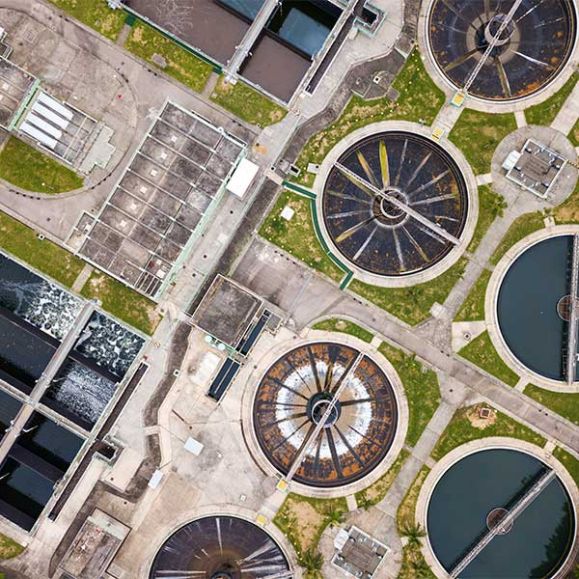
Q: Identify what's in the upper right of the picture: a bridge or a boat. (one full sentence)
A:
It is a bridge that can be seen in the upper right of the picture.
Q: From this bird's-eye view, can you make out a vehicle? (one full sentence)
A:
No, this view has no vehicle in it.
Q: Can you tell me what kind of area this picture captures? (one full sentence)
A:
What you see here is an industrial area.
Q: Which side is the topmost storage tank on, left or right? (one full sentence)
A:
The topmost storage tank is on the right side of the image.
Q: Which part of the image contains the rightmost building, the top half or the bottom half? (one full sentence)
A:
The top half of the photo is where the rightmost building is.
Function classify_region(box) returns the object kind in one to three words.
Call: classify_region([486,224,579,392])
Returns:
storage tank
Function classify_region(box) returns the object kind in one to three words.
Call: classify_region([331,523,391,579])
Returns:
building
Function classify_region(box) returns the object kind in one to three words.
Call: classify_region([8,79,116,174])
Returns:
house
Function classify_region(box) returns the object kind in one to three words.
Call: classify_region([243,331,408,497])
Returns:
storage tank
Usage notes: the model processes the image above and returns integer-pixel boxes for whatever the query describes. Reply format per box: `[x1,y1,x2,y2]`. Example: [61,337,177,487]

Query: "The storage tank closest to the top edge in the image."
[418,0,579,113]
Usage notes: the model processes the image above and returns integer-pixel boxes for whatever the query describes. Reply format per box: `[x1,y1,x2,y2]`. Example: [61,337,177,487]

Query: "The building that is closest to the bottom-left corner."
[59,504,134,579]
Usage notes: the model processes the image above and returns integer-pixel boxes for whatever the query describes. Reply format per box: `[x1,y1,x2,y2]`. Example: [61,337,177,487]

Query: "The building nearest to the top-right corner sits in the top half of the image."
[505,140,566,199]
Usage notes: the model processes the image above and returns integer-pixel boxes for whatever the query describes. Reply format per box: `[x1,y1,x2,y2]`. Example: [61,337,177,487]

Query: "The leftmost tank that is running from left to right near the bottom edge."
[137,505,303,579]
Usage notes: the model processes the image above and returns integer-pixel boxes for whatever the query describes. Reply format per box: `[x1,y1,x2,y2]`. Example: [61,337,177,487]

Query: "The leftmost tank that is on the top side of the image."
[314,121,479,286]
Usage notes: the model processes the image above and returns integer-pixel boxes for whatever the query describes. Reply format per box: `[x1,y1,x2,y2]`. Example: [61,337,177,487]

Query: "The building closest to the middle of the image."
[192,275,261,344]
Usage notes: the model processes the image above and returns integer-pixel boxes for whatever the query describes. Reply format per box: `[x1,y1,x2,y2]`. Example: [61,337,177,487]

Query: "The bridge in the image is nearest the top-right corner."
[460,0,524,92]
